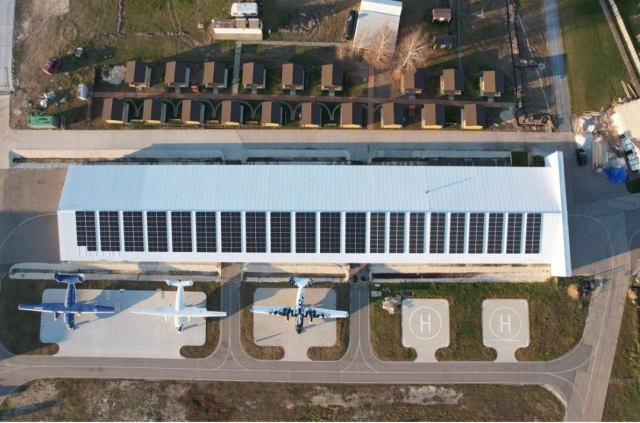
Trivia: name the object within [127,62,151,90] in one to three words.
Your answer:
building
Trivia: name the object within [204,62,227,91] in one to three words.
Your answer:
building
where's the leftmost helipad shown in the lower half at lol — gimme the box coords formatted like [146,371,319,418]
[401,298,449,361]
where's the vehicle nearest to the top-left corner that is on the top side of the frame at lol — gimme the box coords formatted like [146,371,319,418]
[42,54,62,77]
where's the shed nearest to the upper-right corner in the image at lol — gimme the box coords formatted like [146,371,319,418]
[599,99,640,141]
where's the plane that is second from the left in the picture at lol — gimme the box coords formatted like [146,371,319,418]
[131,277,228,335]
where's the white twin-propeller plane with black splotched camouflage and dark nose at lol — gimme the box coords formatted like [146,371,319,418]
[251,277,348,335]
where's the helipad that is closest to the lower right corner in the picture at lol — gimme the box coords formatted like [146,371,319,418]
[483,298,531,362]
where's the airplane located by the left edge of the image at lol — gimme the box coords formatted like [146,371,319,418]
[19,274,116,332]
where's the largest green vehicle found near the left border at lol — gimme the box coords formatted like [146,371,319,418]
[25,115,62,129]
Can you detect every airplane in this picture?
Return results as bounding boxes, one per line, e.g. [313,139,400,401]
[131,277,228,335]
[251,277,348,335]
[19,274,116,332]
